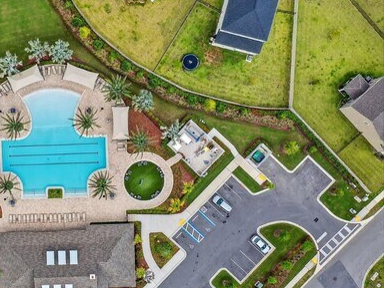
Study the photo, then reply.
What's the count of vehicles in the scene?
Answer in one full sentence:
The number of vehicles here is 2.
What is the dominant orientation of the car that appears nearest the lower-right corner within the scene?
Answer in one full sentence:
The car that appears nearest the lower-right corner has been laid out on a diagonal relative to the frame.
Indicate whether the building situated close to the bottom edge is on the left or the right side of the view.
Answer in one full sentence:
It is on the left.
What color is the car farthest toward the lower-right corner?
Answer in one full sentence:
From above, the car farthest toward the lower-right corner appears white.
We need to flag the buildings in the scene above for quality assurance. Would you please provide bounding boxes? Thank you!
[334,70,384,153]
[209,0,279,55]
[0,224,136,288]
